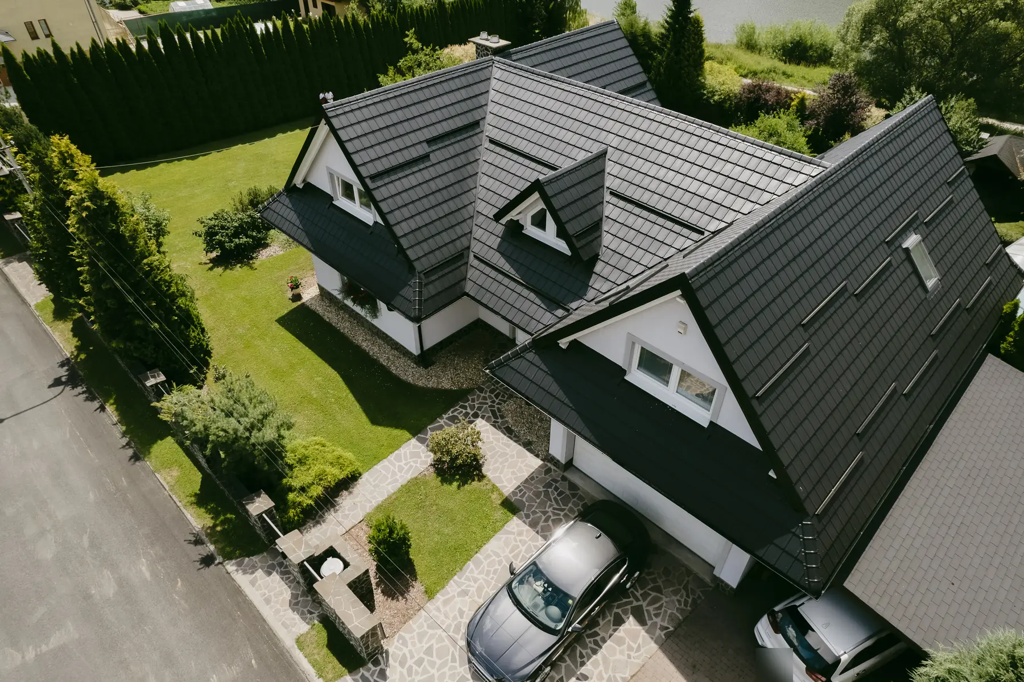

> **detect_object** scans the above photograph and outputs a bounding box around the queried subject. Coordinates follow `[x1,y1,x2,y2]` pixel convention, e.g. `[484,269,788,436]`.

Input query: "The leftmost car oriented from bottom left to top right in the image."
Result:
[465,495,655,682]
